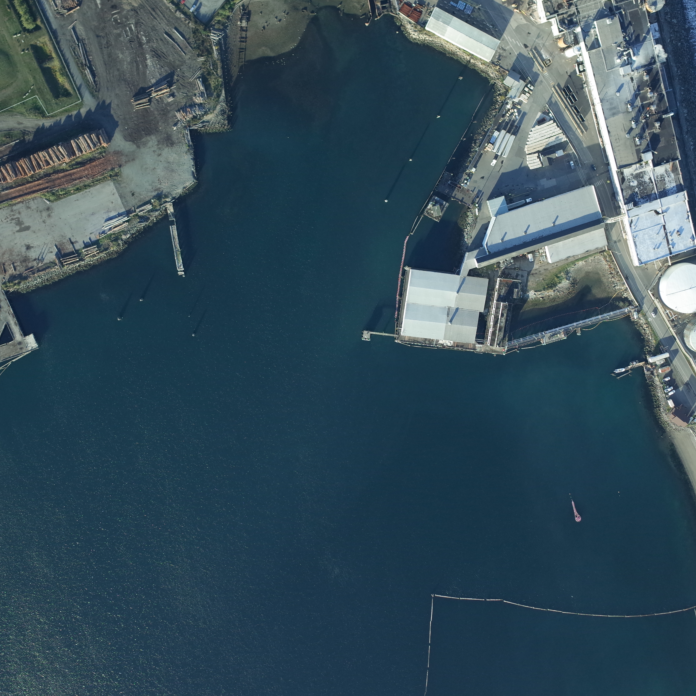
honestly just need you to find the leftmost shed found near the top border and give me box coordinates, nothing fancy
[425,8,500,62]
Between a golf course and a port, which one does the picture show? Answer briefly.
port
